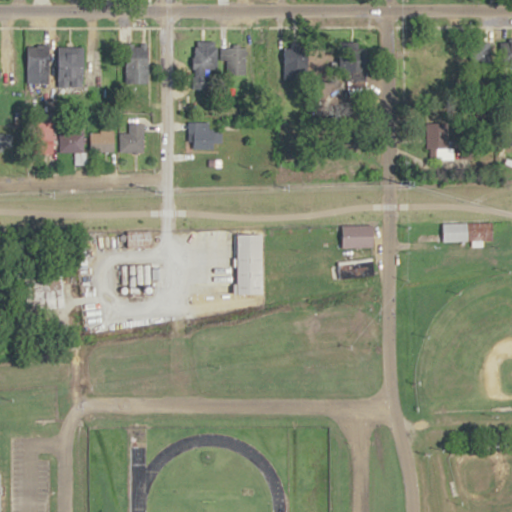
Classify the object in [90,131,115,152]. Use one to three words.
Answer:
house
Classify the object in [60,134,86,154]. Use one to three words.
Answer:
house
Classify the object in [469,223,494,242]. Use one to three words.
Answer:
barn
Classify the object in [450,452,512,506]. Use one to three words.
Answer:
baseball field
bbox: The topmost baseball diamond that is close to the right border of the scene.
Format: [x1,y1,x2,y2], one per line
[416,272,512,413]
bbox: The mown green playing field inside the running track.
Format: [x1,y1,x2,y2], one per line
[147,447,274,512]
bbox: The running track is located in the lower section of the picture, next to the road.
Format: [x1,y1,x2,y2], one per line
[130,428,286,512]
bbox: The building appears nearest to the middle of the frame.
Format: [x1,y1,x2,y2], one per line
[234,234,264,296]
